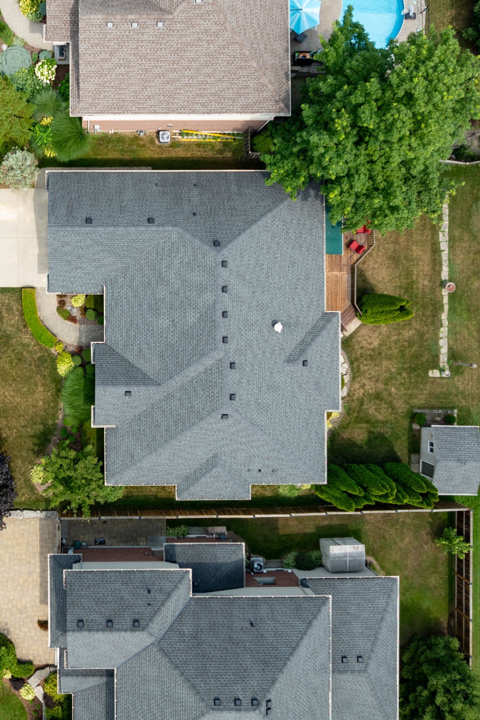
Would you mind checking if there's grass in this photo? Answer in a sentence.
Yes, some grass is visible.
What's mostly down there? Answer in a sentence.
The scene is dominated by buildings.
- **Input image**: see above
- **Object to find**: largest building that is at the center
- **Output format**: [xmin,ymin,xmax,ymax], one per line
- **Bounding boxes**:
[45,170,343,502]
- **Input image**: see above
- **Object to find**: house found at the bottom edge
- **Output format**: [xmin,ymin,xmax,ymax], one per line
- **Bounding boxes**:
[46,533,401,720]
